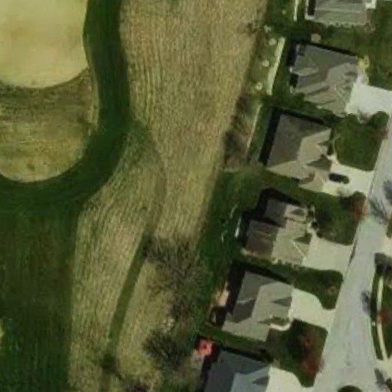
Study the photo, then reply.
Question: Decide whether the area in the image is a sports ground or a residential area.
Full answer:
What you see here is a residential area.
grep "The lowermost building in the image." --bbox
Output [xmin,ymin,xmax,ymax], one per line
[210,350,275,392]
